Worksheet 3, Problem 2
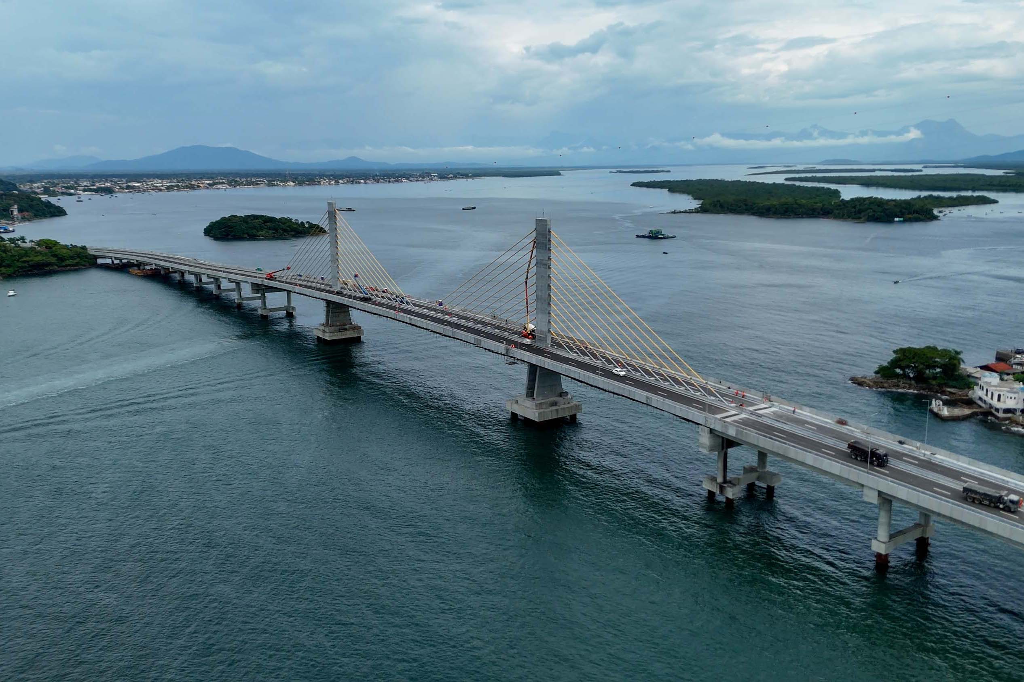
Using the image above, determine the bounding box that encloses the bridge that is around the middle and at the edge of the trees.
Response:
[82,199,1024,566]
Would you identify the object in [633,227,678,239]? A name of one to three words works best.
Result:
ship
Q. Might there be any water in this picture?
Yes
